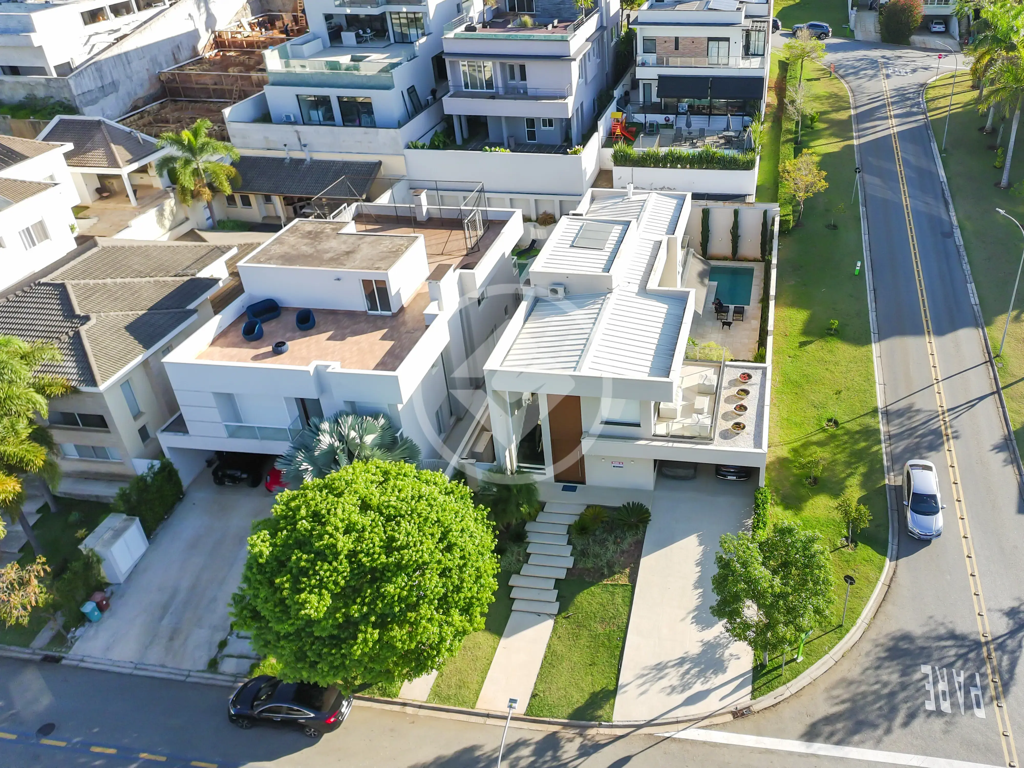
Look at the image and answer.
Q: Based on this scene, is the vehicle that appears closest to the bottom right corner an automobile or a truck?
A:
automobile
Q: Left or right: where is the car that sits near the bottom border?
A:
left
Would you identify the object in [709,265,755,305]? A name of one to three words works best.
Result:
swimming pool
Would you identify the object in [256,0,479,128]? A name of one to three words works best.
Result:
building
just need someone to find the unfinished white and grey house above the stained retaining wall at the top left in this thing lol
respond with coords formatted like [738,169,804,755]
[0,0,184,80]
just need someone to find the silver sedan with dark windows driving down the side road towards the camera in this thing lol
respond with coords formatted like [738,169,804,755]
[899,468,954,539]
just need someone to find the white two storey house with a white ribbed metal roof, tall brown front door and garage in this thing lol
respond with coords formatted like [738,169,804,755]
[476,182,771,509]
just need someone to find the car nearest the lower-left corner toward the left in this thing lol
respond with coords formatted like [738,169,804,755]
[224,675,345,742]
